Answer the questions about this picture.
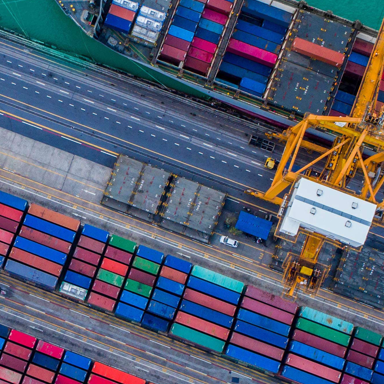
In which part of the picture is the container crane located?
right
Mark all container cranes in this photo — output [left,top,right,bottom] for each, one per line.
[241,20,384,311]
